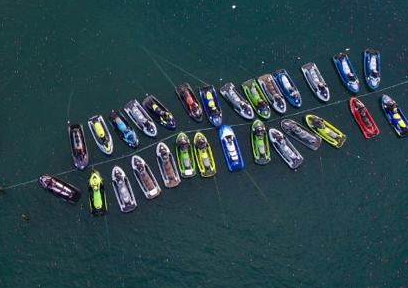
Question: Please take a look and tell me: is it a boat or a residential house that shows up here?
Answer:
boat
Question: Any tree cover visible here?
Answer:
No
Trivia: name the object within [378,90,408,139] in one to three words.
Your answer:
boat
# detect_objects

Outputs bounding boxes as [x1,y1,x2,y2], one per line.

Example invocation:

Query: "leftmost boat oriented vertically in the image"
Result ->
[68,123,87,170]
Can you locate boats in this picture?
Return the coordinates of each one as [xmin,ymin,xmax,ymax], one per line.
[157,139,182,191]
[279,116,323,154]
[250,119,271,170]
[141,92,175,131]
[221,124,247,176]
[87,114,113,158]
[266,119,305,172]
[255,72,286,115]
[364,48,382,92]
[197,82,221,126]
[113,159,139,216]
[193,130,218,180]
[175,130,196,181]
[108,110,137,147]
[378,90,408,139]
[217,79,253,119]
[132,152,163,202]
[297,61,329,103]
[122,97,156,140]
[38,176,83,206]
[173,81,203,129]
[88,167,105,218]
[270,67,302,109]
[350,97,381,141]
[68,123,87,170]
[329,51,359,94]
[303,108,348,152]
[240,77,271,119]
